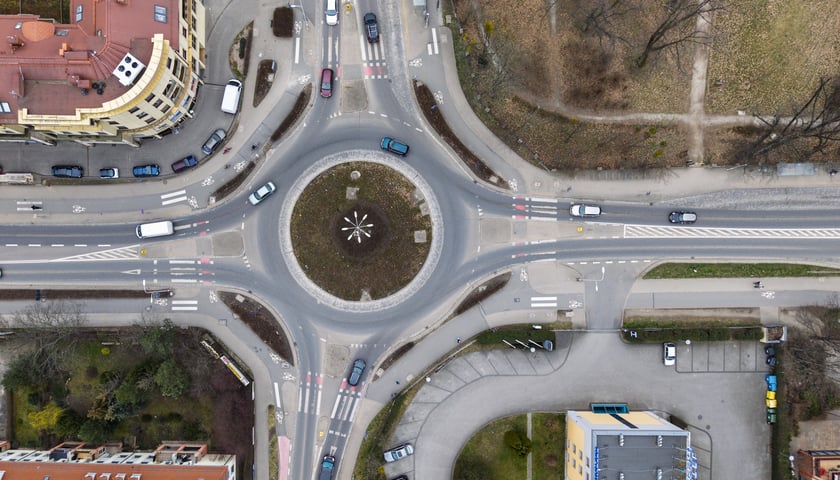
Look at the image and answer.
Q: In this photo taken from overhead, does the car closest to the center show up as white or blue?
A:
blue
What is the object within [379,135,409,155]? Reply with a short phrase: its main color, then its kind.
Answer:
blue car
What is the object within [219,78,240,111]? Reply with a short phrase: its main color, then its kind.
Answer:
white vehicle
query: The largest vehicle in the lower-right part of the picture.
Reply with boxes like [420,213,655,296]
[664,343,680,368]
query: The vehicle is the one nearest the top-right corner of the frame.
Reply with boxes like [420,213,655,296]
[669,208,700,223]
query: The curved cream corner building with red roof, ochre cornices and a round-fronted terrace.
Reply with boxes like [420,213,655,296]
[0,0,213,155]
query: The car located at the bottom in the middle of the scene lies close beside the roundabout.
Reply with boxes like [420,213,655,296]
[346,356,367,388]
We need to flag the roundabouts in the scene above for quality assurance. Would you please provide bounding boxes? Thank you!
[244,116,479,350]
